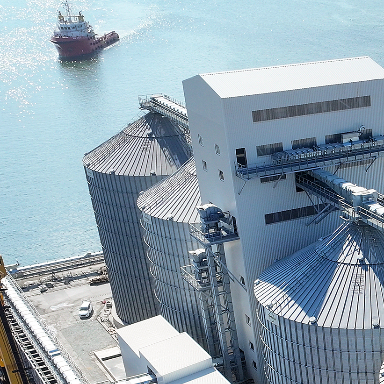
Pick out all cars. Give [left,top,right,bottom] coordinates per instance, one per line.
[76,302,92,319]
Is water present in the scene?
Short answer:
Yes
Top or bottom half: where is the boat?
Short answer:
top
